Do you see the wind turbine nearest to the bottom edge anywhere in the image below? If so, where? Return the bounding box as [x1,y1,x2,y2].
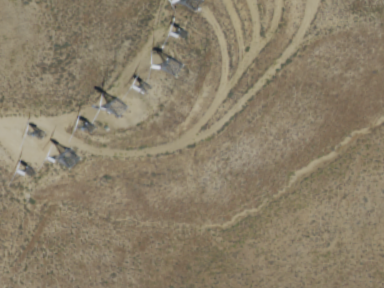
[10,160,38,182]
